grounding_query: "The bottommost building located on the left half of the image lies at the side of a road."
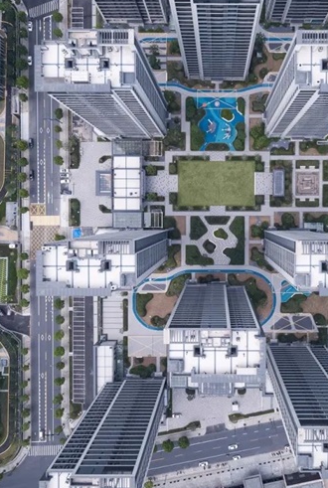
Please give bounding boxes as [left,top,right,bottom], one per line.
[36,369,168,488]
